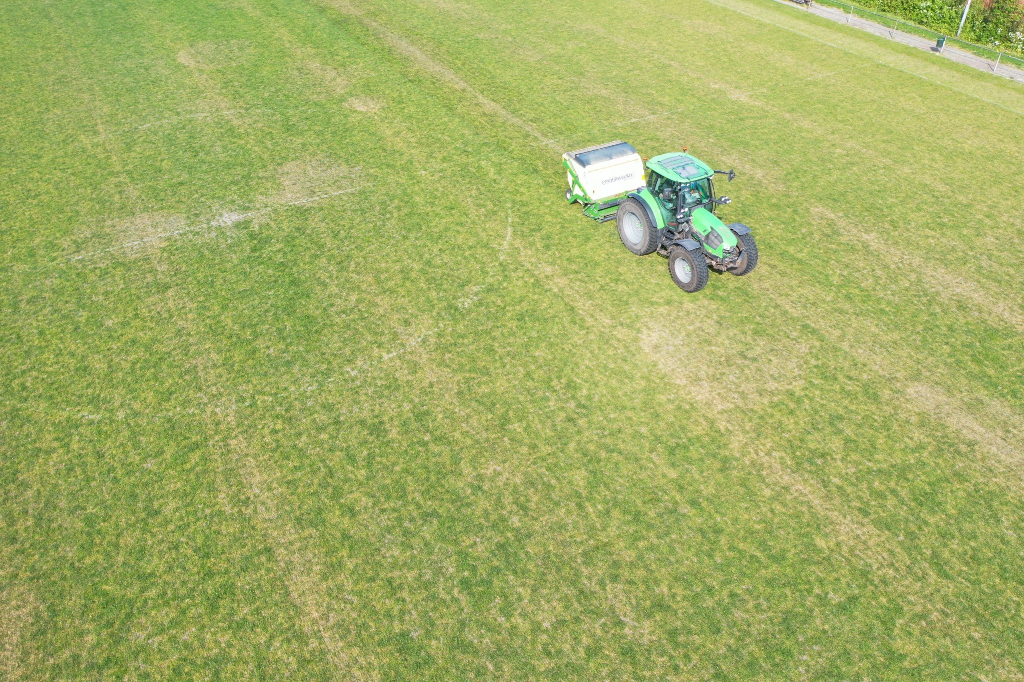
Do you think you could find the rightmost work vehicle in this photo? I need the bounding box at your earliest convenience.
[616,146,760,292]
